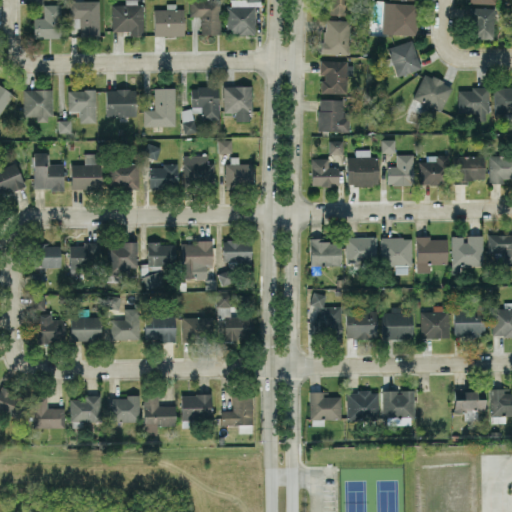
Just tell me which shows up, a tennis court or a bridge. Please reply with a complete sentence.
I can see a tennis court in this picture.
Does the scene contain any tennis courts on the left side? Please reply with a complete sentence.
No, there is no tennis court on the left side.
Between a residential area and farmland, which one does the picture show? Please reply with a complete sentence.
This looks like a residential area.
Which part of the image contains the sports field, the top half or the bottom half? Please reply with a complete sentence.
The sports field is in the bottom half of the image.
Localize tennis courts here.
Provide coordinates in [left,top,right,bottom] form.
[340,468,372,512]
[372,468,404,512]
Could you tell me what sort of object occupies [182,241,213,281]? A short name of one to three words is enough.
house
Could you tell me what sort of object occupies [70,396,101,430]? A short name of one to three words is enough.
house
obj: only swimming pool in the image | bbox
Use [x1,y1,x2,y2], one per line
[370,2,384,36]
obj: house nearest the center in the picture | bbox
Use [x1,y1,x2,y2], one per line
[224,243,252,264]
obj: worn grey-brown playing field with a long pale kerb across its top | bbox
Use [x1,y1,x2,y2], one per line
[416,451,477,512]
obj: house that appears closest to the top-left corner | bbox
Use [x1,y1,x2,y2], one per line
[34,4,60,38]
